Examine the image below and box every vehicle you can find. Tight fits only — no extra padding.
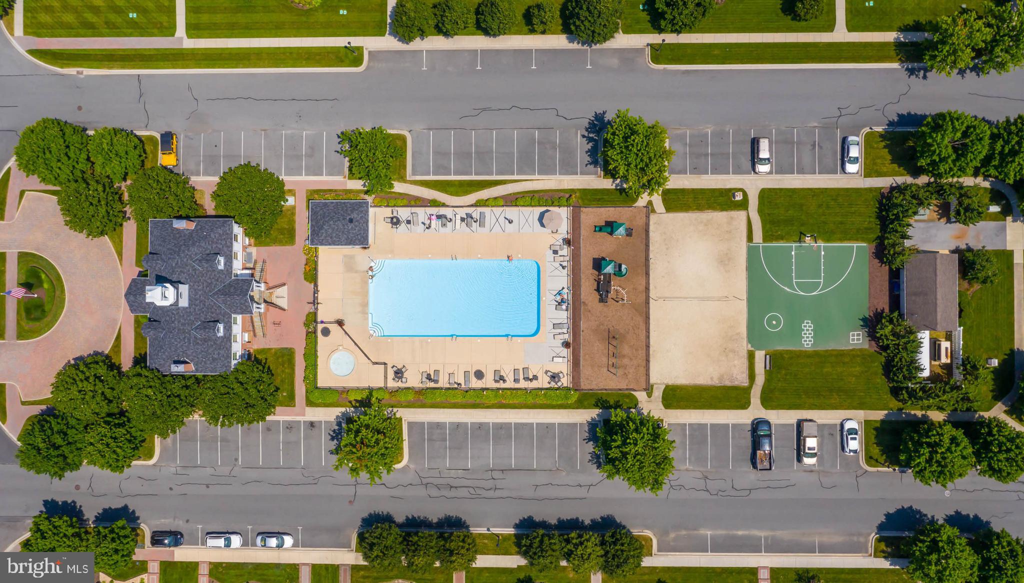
[754,421,774,471]
[841,419,861,455]
[799,419,819,465]
[159,133,178,164]
[754,137,773,174]
[843,137,861,174]
[256,532,294,550]
[205,531,242,550]
[148,531,184,549]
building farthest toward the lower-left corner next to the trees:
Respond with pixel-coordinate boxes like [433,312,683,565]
[123,218,290,375]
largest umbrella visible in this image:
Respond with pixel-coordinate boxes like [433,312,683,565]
[543,211,563,231]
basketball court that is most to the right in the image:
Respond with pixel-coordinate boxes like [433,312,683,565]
[748,242,869,351]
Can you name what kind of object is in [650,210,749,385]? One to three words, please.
sports court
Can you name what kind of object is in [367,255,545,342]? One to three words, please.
swimming pool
